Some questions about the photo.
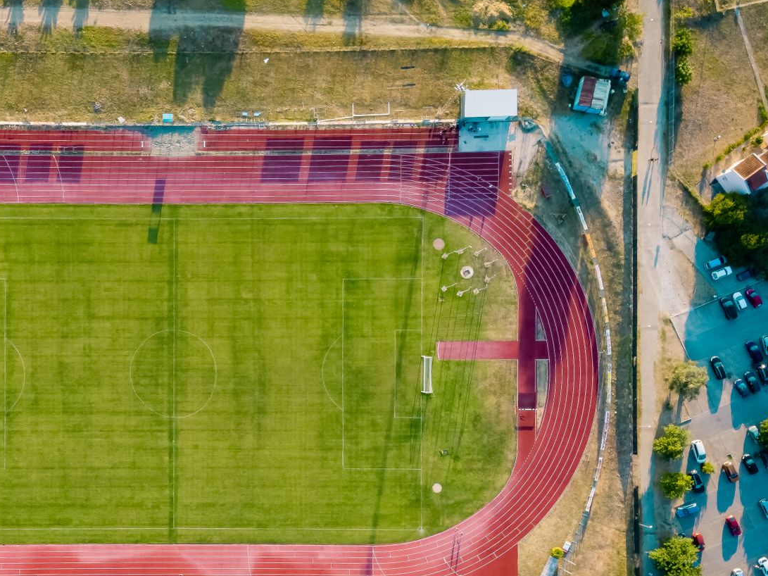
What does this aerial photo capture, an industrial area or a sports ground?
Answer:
sports ground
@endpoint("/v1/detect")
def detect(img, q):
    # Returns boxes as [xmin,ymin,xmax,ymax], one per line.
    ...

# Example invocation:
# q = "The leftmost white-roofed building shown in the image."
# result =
[458,91,518,122]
